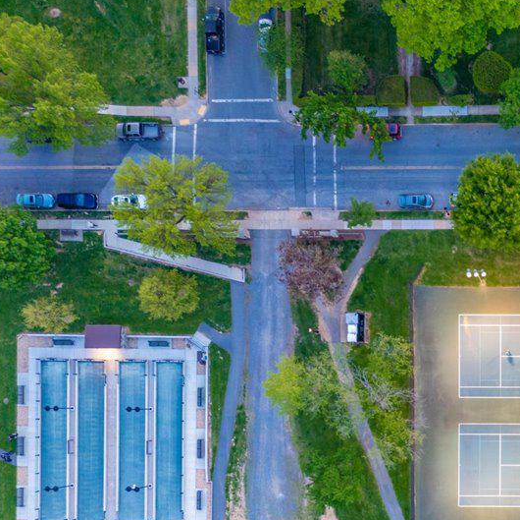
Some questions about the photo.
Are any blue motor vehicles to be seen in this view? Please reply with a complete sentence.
Yes, the picture does show a blue motor vehicle.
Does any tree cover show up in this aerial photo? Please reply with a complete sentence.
Yes, the picture does contain tree cover.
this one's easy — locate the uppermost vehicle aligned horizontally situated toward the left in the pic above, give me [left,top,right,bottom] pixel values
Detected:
[114,120,161,139]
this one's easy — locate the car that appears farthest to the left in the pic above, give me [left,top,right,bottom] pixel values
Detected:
[12,190,52,208]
